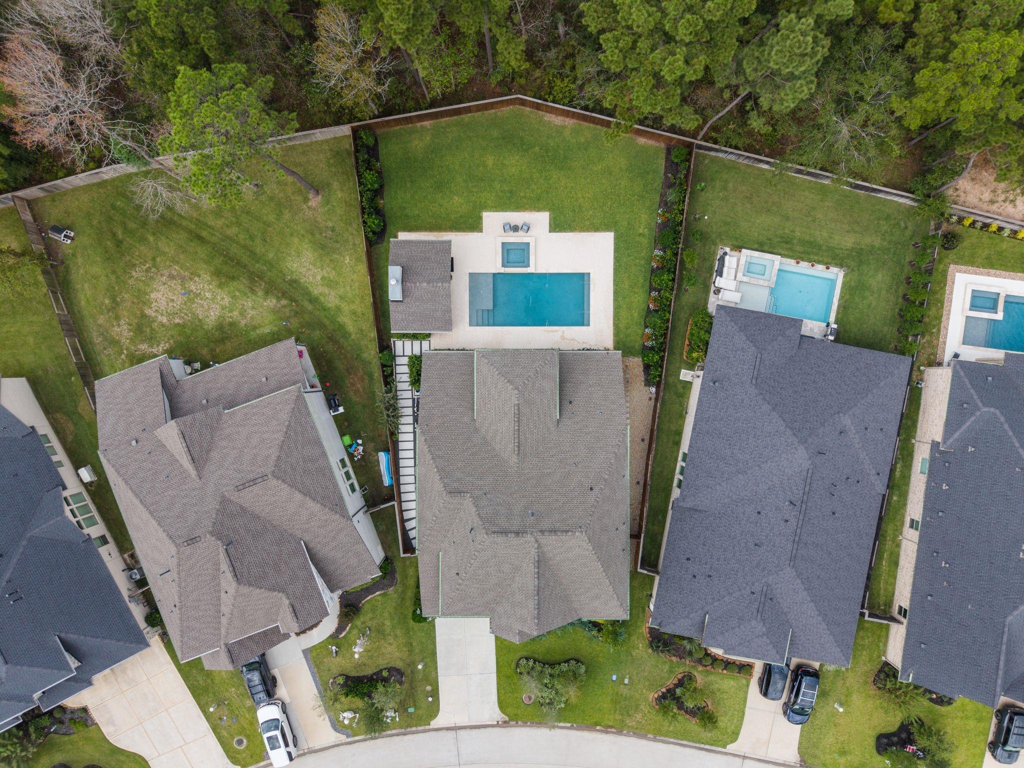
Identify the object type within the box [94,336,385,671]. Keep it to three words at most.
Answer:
house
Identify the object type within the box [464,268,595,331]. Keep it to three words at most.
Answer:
swimming pool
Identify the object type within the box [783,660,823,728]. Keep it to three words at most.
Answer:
car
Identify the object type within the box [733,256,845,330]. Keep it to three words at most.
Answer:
swimming pool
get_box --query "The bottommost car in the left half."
[257,695,300,768]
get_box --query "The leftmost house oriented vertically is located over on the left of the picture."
[0,378,153,731]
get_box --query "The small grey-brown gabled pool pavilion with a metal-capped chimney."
[389,238,454,334]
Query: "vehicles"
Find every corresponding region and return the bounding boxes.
[754,658,792,708]
[257,695,300,768]
[783,660,823,728]
[986,699,1024,768]
[237,652,280,708]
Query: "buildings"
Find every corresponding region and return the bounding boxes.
[94,336,385,671]
[415,348,631,645]
[885,351,1024,710]
[389,238,454,334]
[0,378,153,731]
[648,303,913,669]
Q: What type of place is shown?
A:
residential area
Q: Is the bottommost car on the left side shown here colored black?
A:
No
